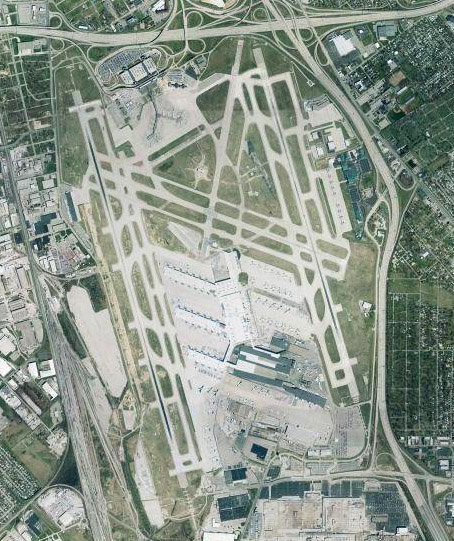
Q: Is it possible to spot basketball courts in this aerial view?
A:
No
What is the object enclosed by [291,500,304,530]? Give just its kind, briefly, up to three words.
building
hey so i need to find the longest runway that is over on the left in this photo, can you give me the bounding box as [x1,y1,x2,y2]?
[77,108,188,488]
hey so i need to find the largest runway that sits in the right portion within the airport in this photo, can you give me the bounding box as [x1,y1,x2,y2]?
[255,47,362,400]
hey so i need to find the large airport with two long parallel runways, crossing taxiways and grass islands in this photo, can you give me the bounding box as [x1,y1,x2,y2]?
[66,41,362,488]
